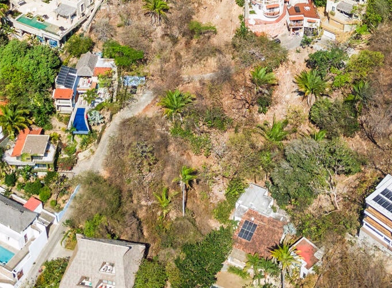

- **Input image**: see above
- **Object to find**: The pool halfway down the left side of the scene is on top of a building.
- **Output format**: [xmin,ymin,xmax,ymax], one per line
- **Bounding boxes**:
[72,107,90,134]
